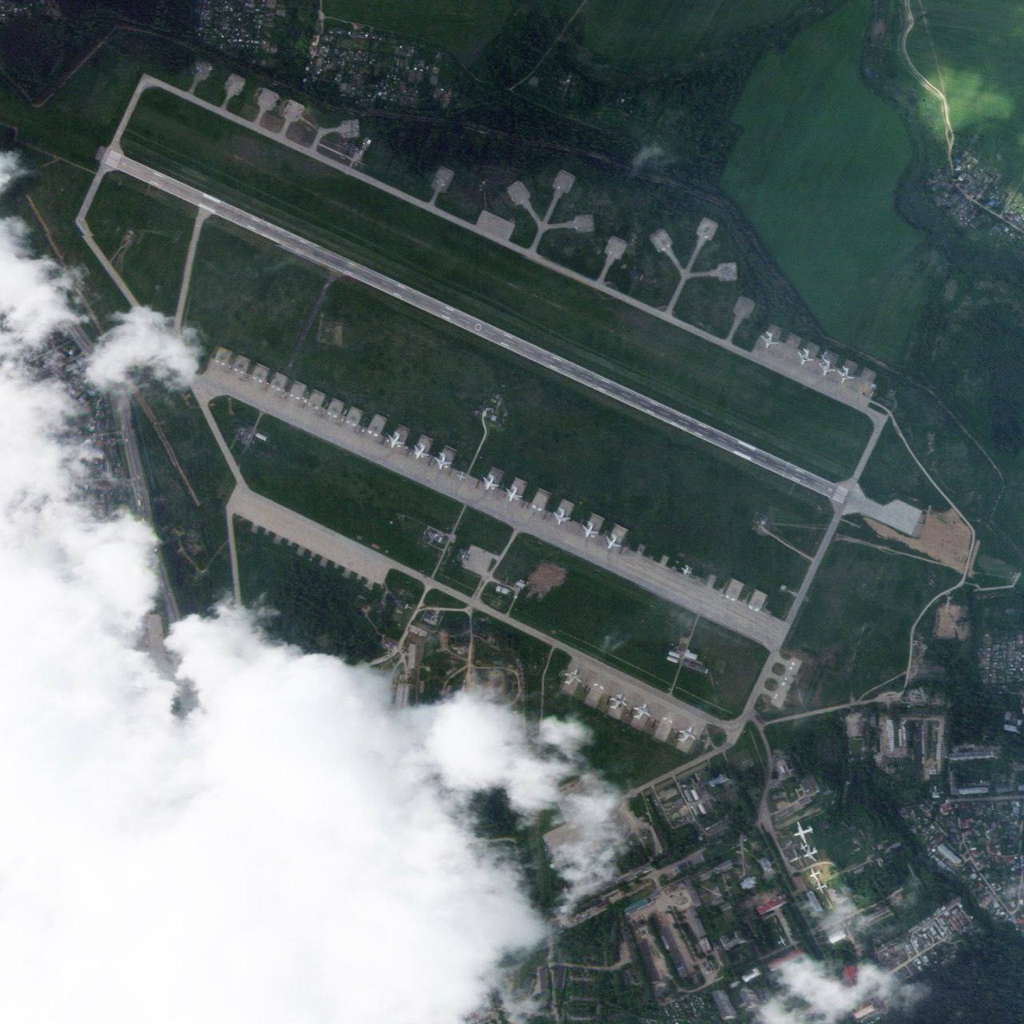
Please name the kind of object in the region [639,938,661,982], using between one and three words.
building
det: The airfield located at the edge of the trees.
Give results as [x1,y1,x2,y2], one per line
[79,64,928,752]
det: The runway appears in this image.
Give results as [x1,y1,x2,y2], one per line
[104,150,851,504]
